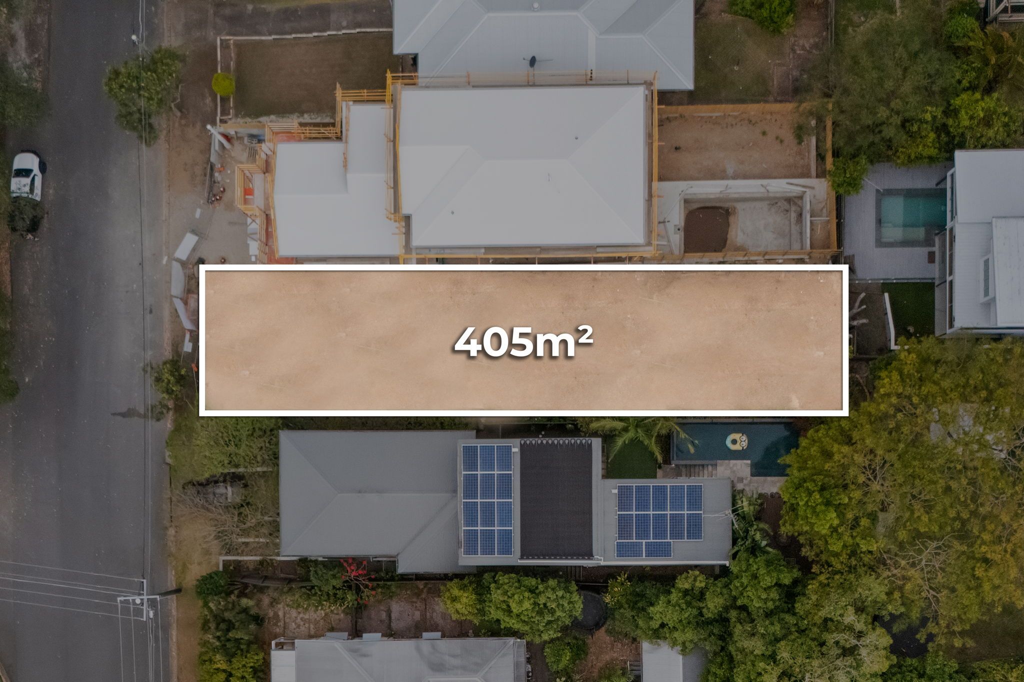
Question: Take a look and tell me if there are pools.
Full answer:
Yes, the photo shows a pool.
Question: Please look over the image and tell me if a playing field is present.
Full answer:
No, no playing field is visible in the scene.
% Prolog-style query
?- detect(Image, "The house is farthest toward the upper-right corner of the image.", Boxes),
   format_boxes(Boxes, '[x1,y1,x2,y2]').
[935,149,1024,333]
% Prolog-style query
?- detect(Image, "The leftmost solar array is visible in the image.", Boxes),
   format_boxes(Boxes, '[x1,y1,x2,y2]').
[460,445,514,556]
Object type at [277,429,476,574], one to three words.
house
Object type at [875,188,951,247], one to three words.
swimming pool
